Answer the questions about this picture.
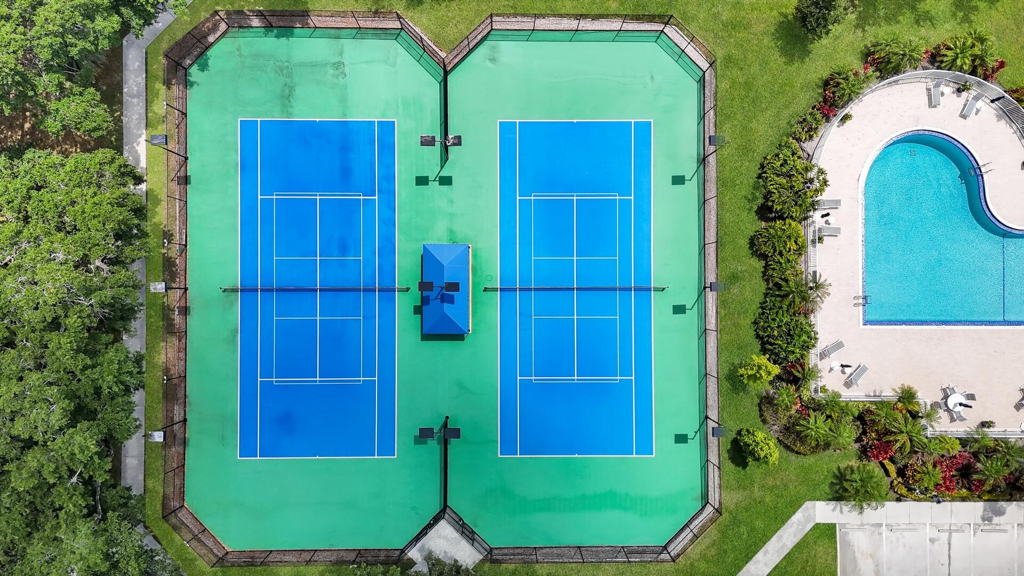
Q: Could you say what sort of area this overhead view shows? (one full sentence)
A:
This image shows a sports ground.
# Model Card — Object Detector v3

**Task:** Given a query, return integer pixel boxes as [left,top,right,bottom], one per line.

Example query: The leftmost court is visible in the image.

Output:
[184,27,447,551]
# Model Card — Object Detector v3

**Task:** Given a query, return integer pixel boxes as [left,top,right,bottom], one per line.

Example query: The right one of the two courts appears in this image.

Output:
[447,30,708,547]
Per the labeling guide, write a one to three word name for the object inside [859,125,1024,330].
swimming pool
